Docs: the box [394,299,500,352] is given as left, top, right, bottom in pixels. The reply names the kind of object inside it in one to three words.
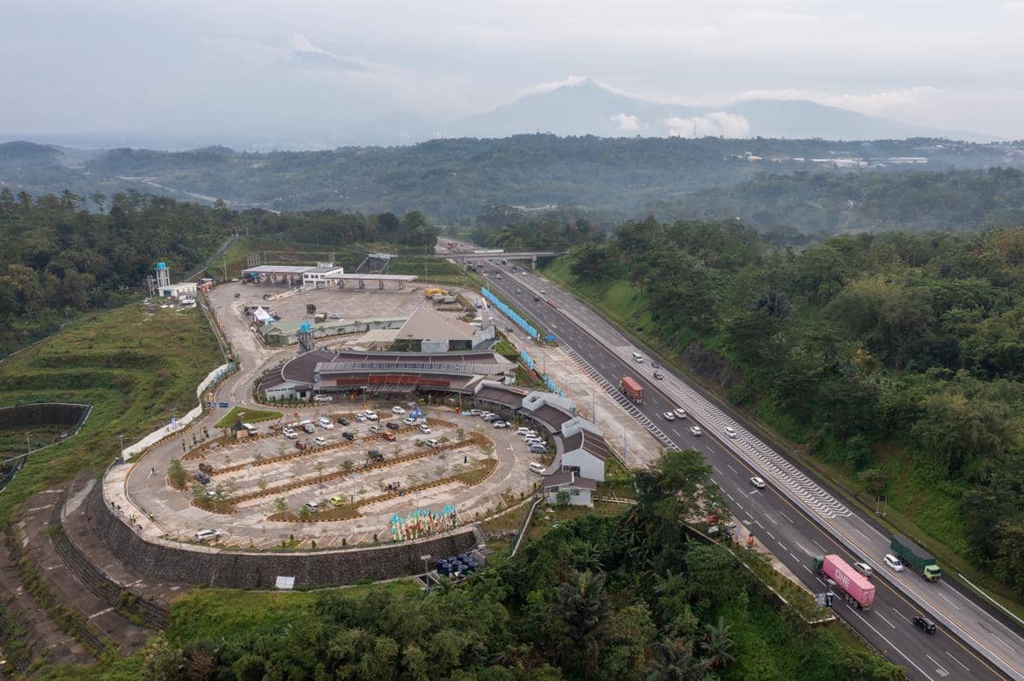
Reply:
building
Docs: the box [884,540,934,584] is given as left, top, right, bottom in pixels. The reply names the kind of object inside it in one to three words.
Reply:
truck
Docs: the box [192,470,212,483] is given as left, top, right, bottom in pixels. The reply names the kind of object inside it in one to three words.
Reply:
vehicle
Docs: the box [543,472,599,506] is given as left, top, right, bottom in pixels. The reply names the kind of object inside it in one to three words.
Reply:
house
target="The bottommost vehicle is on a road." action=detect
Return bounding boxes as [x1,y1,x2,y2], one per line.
[911,616,939,634]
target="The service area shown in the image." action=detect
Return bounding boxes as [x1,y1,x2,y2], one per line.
[105,263,842,619]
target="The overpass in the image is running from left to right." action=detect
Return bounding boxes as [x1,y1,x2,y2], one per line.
[356,250,560,264]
